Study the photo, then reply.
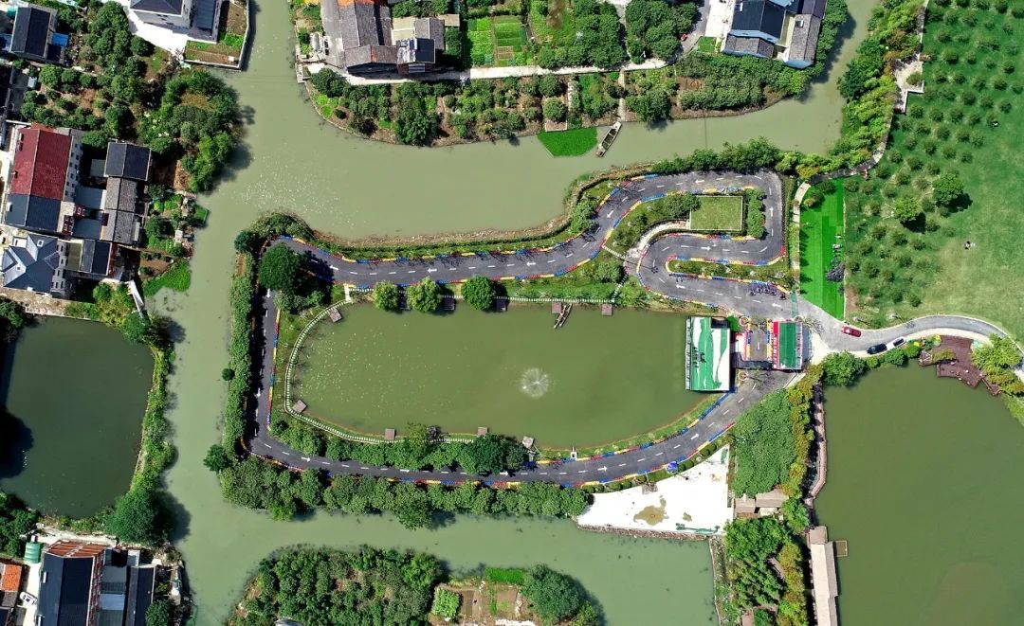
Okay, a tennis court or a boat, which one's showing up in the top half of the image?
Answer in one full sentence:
The feature located in the top half of the image is a boat.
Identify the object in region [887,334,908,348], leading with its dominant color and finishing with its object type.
white car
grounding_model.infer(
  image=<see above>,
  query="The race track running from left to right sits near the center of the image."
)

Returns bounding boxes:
[239,161,843,492]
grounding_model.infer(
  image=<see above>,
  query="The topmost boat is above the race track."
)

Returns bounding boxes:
[598,121,624,157]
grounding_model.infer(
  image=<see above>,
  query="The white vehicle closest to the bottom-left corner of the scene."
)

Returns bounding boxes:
[19,591,38,606]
